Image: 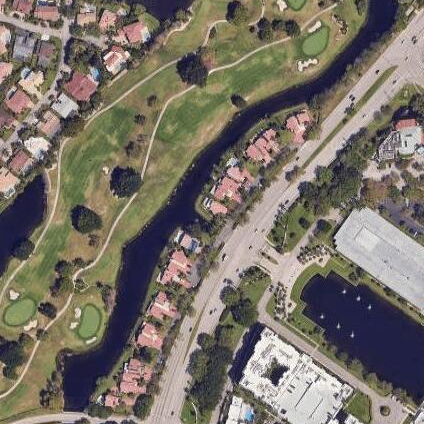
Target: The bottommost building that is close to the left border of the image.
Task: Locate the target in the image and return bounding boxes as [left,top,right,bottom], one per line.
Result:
[0,168,20,194]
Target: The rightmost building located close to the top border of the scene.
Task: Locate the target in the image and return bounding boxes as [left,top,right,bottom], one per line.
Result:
[124,20,150,45]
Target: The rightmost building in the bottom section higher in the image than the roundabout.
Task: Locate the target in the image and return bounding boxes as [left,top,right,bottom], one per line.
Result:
[335,207,424,310]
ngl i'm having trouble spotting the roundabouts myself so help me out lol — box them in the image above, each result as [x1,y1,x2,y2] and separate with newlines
[368,395,403,424]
